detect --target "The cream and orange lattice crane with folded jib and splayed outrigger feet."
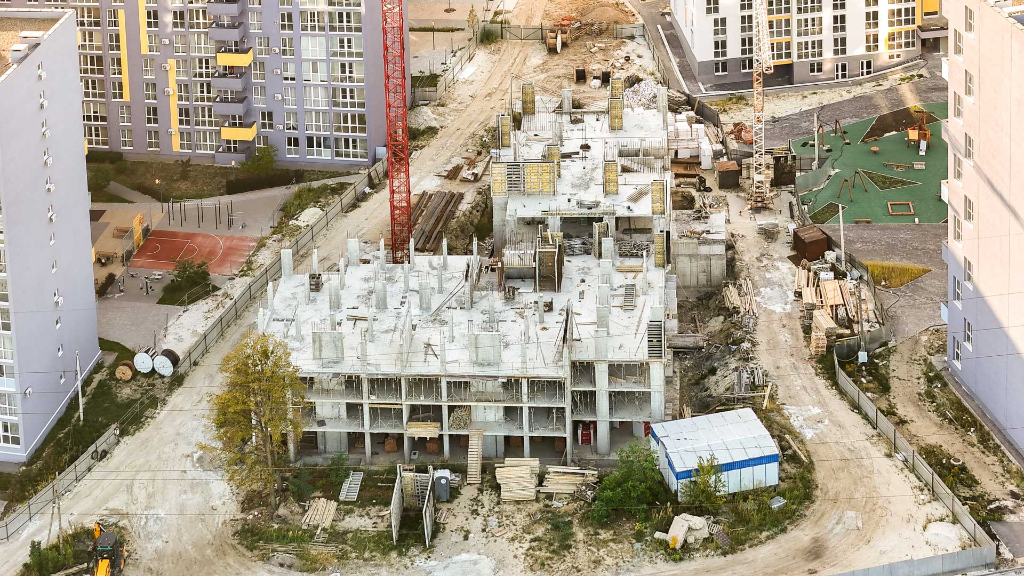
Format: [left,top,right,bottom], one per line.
[733,0,790,217]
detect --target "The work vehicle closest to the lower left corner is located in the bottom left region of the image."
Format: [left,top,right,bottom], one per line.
[92,527,125,576]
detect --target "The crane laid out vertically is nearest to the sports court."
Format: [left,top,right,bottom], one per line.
[379,0,415,263]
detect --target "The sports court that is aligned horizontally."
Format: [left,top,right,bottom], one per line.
[128,230,262,275]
